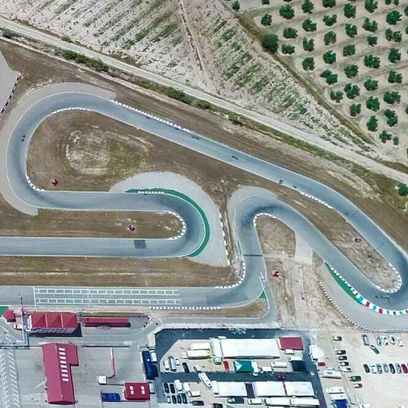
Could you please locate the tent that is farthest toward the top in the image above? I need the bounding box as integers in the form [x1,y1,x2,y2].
[219,339,280,360]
